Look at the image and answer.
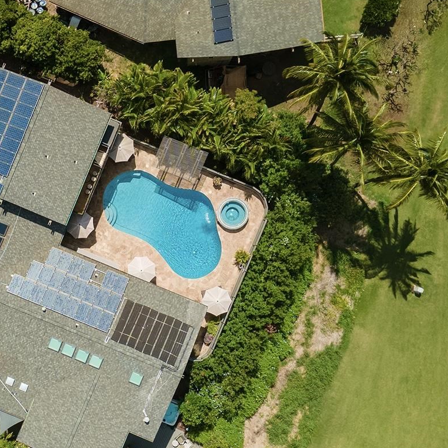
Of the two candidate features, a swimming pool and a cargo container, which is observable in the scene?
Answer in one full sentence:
The image shows a swimming pool.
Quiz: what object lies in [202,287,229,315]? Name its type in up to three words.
umbrella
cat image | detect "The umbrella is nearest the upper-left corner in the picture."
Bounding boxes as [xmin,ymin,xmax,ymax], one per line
[109,134,135,163]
